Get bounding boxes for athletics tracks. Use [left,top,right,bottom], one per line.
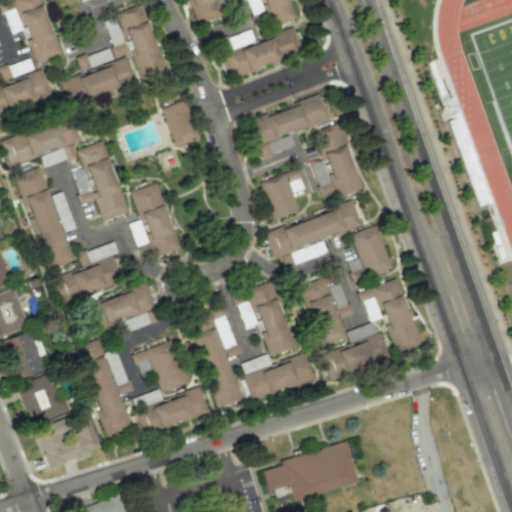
[439,0,512,245]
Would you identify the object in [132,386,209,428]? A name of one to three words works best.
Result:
house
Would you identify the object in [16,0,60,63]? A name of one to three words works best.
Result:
house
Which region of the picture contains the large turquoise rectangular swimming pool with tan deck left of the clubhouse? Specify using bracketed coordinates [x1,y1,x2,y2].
[117,116,176,162]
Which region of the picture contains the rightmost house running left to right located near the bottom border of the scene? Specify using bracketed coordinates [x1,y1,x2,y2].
[264,442,358,500]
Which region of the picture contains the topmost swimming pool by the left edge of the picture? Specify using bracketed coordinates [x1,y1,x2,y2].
[3,248,20,272]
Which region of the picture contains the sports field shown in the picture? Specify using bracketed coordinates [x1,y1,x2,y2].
[462,0,512,183]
